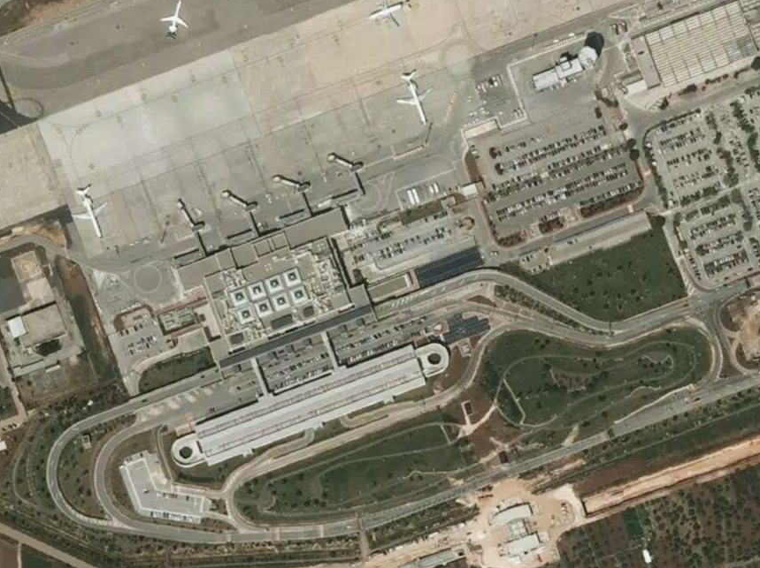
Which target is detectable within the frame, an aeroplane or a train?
aeroplane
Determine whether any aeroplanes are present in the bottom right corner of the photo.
No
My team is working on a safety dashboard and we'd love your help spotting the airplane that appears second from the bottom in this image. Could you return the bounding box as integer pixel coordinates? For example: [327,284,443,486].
[395,68,432,123]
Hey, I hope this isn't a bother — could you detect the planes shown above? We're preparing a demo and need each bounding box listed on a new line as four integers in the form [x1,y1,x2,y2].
[71,183,108,237]
[369,0,411,27]
[395,68,432,123]
[161,0,189,35]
